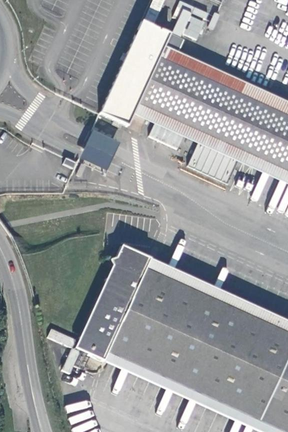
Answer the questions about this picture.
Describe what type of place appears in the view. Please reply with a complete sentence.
The area seen from above is an industrial area.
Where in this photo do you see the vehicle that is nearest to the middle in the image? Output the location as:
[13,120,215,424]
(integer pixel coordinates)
[170,238,187,264]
